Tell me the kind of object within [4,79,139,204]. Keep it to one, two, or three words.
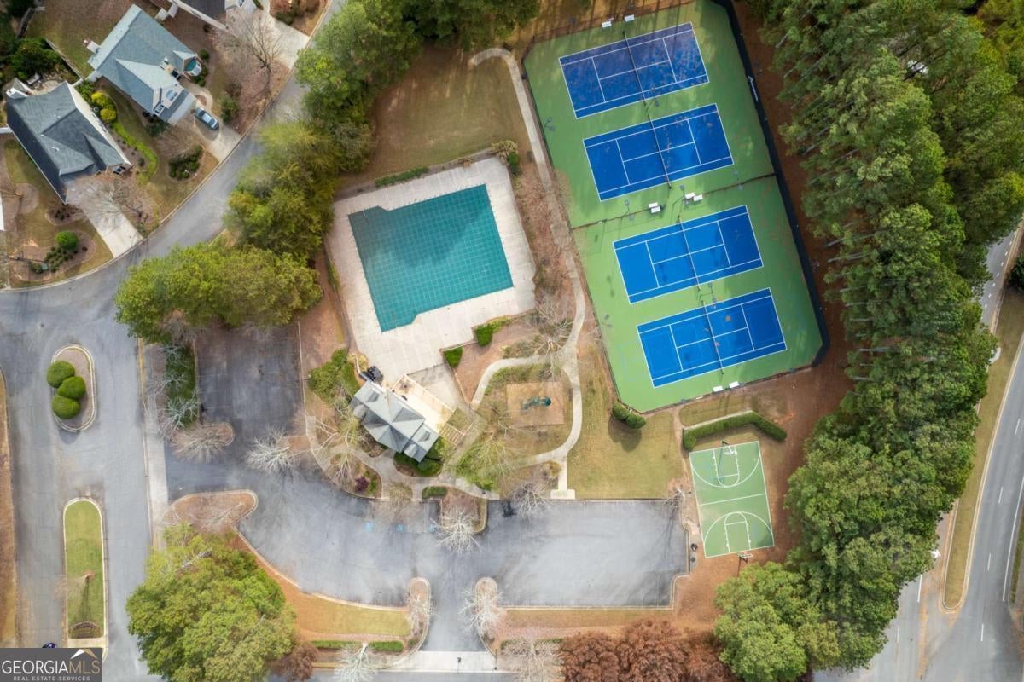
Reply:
house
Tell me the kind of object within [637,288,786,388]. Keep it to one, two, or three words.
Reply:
tennis court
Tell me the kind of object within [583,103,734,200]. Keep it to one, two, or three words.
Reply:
tennis court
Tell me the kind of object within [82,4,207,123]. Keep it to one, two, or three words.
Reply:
house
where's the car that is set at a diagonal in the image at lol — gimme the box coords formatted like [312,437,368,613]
[192,106,219,130]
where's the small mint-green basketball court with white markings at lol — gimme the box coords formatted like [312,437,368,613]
[689,440,774,559]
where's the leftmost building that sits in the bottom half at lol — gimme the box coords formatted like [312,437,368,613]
[346,380,440,463]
